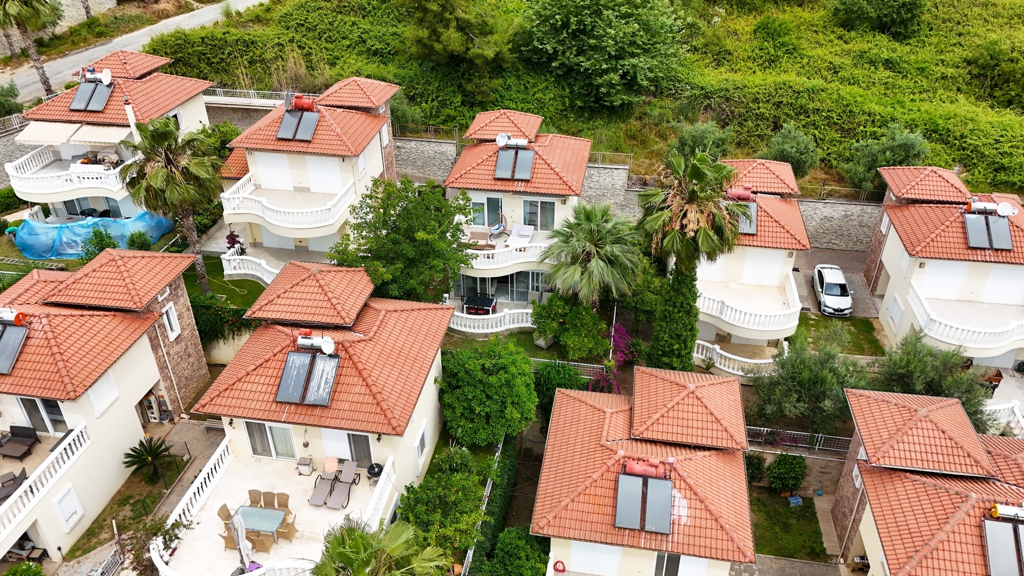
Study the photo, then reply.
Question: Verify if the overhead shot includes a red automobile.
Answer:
No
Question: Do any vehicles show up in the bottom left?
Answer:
No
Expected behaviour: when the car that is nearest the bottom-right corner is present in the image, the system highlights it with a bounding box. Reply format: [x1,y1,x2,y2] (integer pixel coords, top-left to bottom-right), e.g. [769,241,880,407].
[812,270,856,315]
